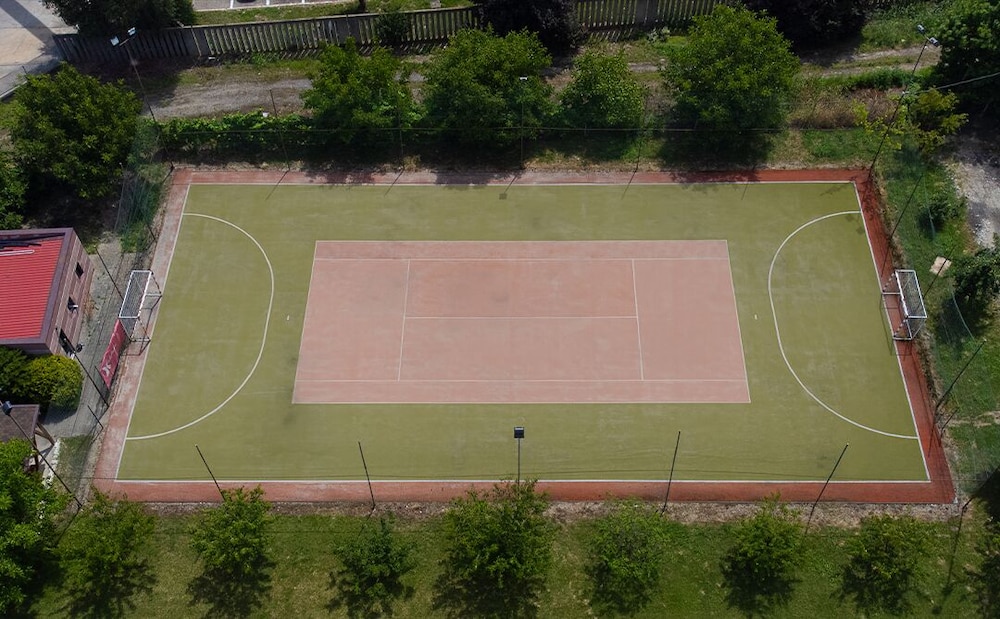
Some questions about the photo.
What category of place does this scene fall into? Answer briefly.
sports ground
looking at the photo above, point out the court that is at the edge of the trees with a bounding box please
[91,168,954,504]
